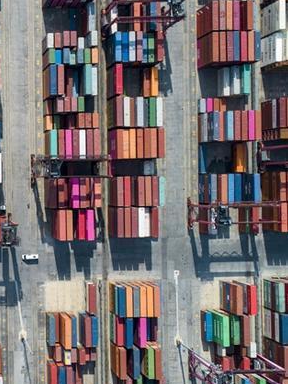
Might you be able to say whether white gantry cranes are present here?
No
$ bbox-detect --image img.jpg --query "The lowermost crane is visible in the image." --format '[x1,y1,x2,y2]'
[187,347,288,384]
